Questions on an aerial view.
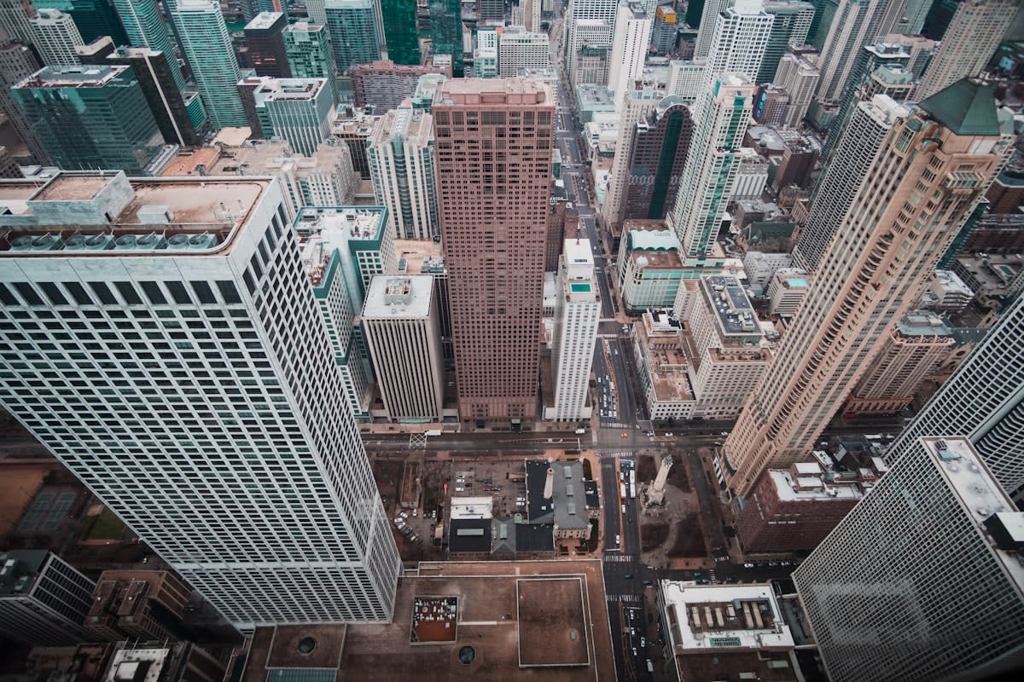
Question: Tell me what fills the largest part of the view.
buildings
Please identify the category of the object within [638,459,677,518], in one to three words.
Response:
water tower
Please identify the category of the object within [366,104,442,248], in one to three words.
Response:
building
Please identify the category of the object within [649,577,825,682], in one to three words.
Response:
building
